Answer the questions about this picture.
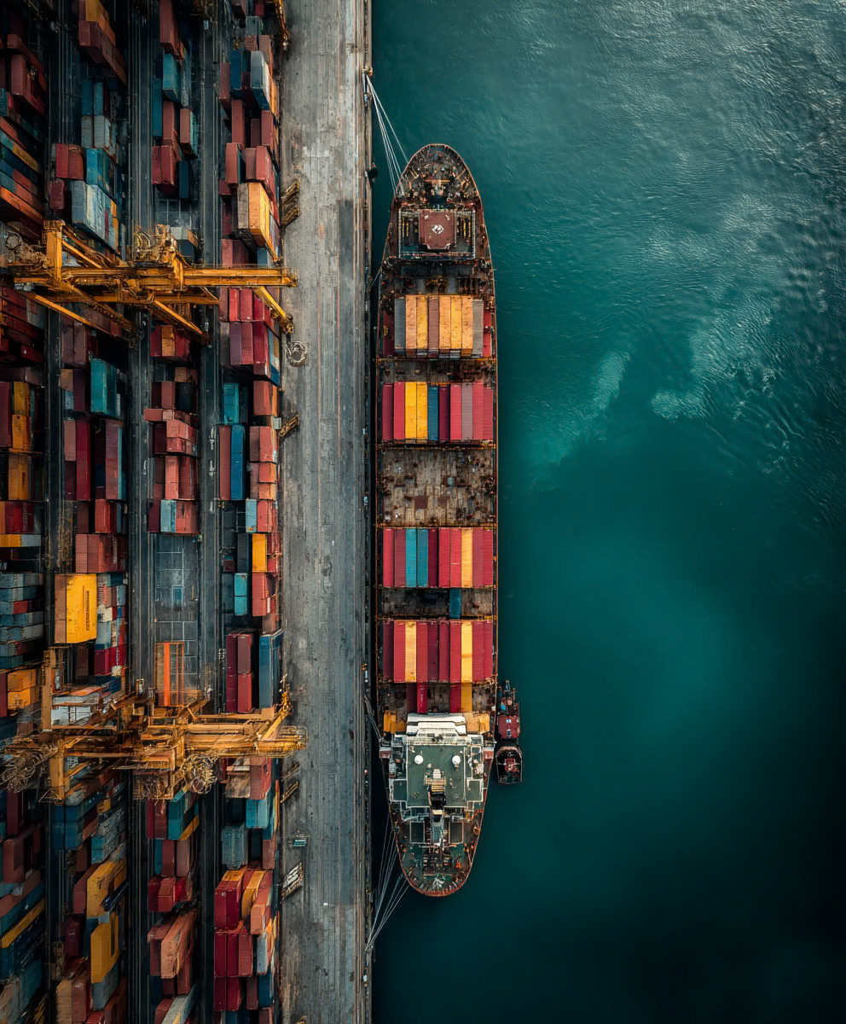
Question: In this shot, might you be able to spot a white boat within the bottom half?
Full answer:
No, looking within the bottom half, there is no white boat.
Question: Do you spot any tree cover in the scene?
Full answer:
No, there is no tree cover in the image.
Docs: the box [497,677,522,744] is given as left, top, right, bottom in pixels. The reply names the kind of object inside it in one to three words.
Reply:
boat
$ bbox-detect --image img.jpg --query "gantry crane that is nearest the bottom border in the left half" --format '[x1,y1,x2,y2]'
[0,648,306,804]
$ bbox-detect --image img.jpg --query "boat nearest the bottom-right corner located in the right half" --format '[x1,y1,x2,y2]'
[497,744,522,784]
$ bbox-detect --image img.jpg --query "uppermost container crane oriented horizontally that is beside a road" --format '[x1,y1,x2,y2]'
[0,215,300,344]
